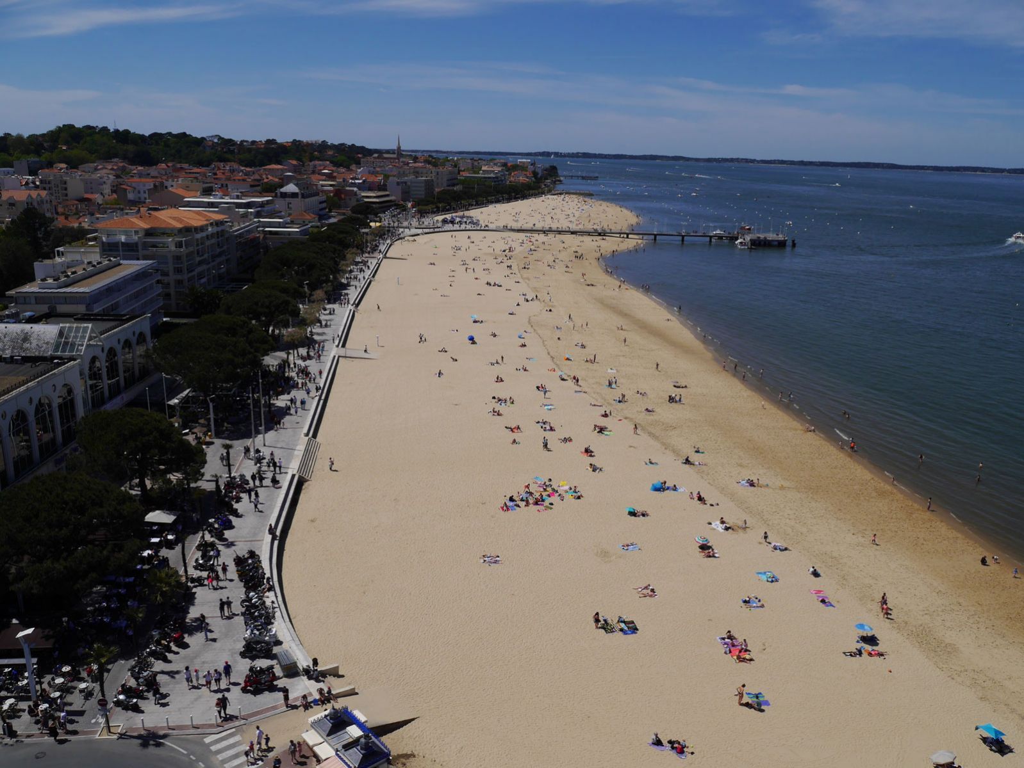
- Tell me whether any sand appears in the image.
Yes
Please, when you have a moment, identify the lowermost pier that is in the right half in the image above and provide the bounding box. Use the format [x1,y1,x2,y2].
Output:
[487,214,787,250]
